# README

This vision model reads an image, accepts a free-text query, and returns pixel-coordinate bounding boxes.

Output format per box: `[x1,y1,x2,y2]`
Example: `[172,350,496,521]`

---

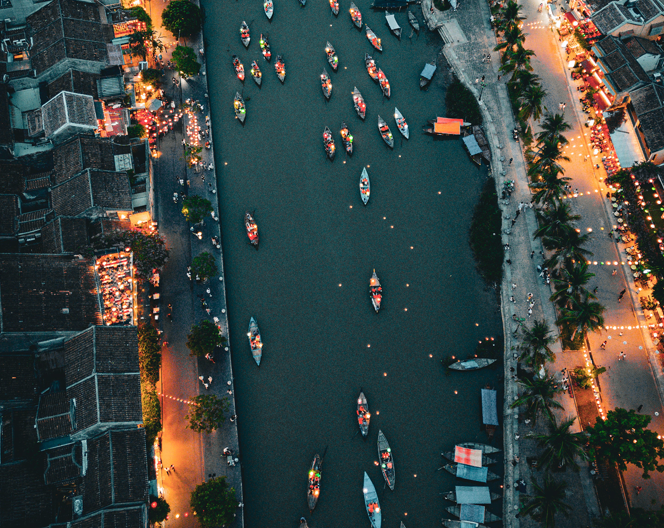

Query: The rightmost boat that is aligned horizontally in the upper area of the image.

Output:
[423,118,472,135]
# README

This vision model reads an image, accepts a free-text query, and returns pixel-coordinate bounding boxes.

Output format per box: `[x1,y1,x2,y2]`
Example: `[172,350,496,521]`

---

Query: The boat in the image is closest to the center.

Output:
[370,264,387,313]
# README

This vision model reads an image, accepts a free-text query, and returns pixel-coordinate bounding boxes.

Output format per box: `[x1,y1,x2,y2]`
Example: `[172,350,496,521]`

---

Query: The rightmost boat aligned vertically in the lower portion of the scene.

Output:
[481,381,499,449]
